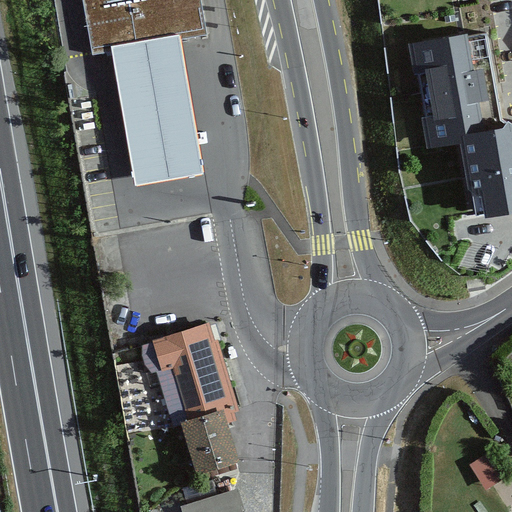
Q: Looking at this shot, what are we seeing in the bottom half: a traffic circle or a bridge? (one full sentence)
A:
The one visible in the bottom half is a traffic circle.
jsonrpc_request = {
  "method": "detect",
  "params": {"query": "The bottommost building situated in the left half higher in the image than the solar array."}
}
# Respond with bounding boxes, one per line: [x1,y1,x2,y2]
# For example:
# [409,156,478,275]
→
[111,33,208,187]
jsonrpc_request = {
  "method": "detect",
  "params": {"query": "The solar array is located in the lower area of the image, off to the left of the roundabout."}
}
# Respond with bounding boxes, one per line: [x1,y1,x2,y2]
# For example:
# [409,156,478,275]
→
[190,339,225,403]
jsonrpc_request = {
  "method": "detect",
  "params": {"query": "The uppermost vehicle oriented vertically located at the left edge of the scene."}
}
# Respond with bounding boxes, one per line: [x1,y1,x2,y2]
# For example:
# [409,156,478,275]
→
[18,252,30,276]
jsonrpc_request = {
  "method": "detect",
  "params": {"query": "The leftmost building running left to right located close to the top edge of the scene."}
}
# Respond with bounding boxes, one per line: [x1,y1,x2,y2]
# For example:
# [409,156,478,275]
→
[82,0,208,54]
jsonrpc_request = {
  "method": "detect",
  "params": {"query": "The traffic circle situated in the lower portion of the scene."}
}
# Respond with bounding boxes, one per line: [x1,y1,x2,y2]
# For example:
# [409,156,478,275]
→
[286,278,428,419]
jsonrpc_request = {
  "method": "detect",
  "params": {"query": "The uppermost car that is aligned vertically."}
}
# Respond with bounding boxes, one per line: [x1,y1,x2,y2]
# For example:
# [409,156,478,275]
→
[224,64,236,88]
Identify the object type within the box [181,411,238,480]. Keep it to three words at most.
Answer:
house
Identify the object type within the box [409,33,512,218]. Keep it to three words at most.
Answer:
building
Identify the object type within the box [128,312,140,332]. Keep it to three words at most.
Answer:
vehicle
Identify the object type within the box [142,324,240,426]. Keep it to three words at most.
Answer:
building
